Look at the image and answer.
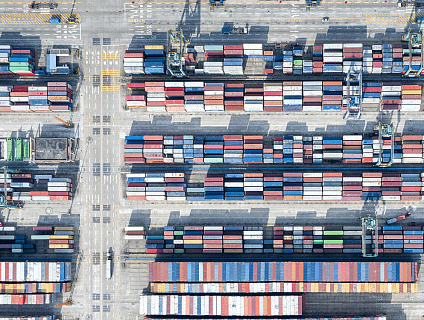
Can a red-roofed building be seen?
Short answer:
No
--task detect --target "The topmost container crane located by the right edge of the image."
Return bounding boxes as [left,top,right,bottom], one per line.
[400,27,424,78]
